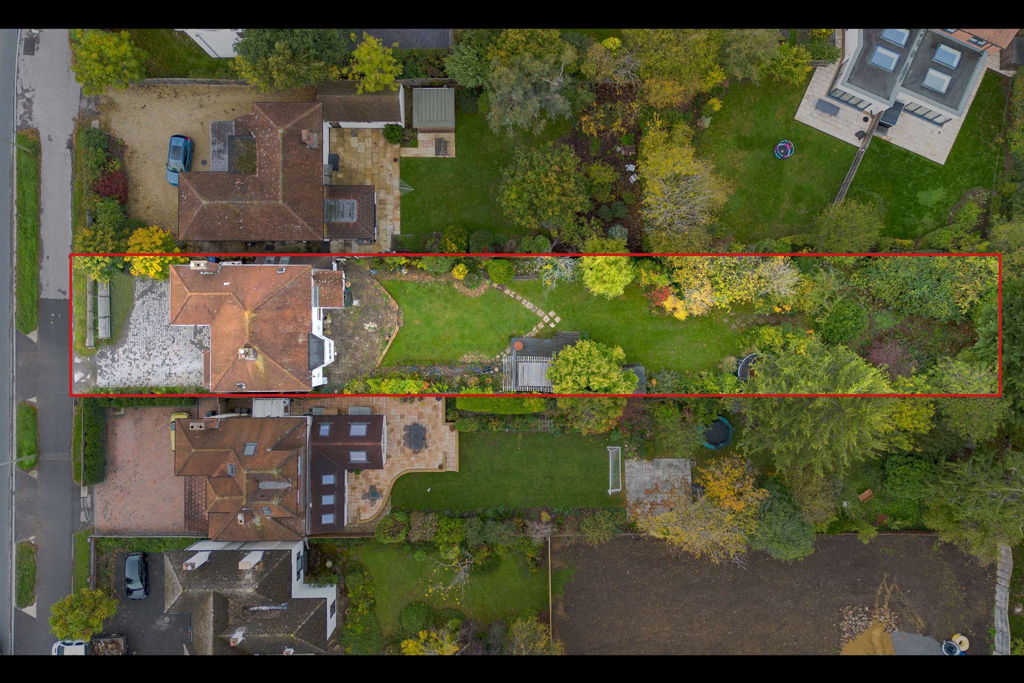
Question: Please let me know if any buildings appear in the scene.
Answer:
Yes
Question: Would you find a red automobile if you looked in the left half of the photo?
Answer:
No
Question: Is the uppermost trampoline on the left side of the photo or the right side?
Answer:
right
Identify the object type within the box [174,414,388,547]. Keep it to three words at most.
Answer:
house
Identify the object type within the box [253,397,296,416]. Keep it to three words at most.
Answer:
building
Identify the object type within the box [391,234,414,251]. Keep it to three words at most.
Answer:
building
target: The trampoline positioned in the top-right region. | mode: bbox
[774,139,795,159]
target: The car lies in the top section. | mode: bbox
[164,134,194,186]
